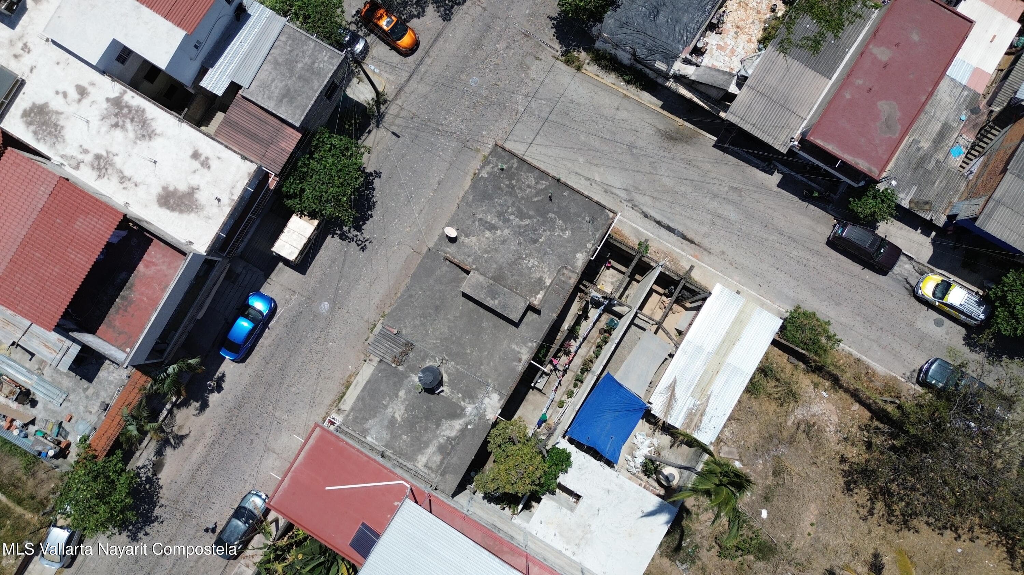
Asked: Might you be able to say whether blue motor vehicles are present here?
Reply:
Yes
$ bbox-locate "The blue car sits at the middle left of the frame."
[221,290,276,363]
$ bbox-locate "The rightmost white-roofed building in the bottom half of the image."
[647,284,782,443]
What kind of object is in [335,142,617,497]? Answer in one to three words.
building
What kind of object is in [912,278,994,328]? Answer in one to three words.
car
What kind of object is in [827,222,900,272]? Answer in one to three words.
car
